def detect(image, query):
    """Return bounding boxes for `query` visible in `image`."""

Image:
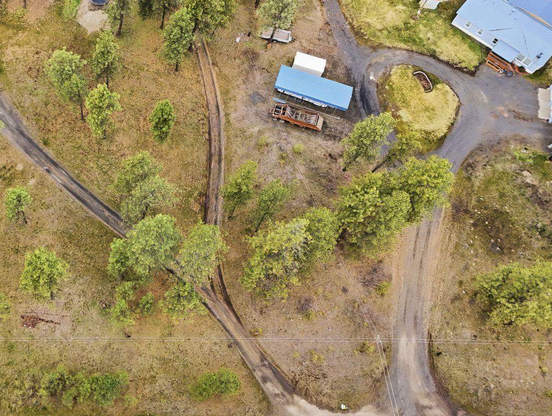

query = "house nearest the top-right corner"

[451,0,552,81]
